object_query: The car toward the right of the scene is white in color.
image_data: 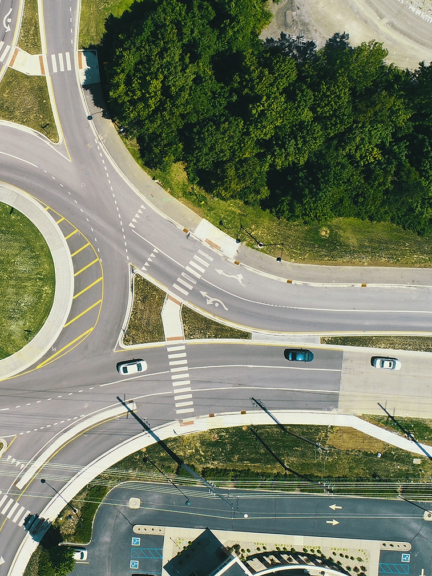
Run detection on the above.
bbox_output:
[369,356,402,371]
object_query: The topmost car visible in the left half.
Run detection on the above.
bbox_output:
[115,359,149,374]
